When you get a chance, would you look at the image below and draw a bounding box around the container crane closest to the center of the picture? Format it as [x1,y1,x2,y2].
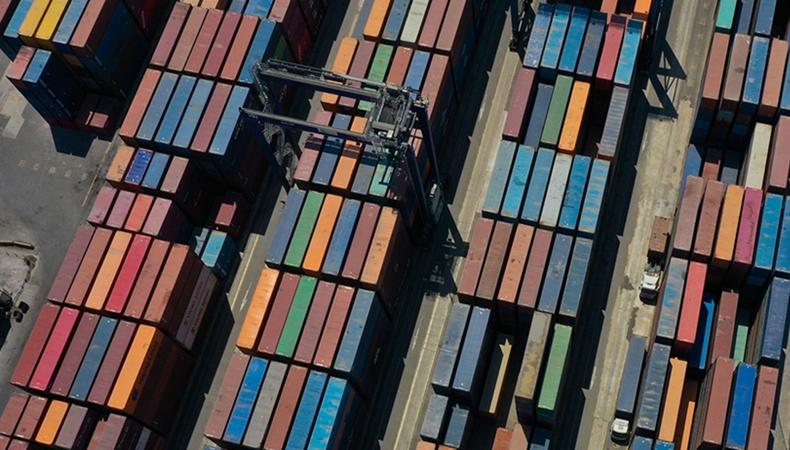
[241,57,449,237]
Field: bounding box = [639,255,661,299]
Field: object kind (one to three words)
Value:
truck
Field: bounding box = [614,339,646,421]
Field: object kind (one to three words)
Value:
shipping container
